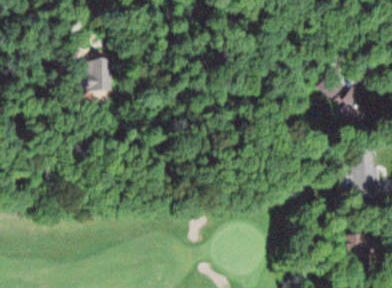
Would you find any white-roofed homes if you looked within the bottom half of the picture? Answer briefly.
No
